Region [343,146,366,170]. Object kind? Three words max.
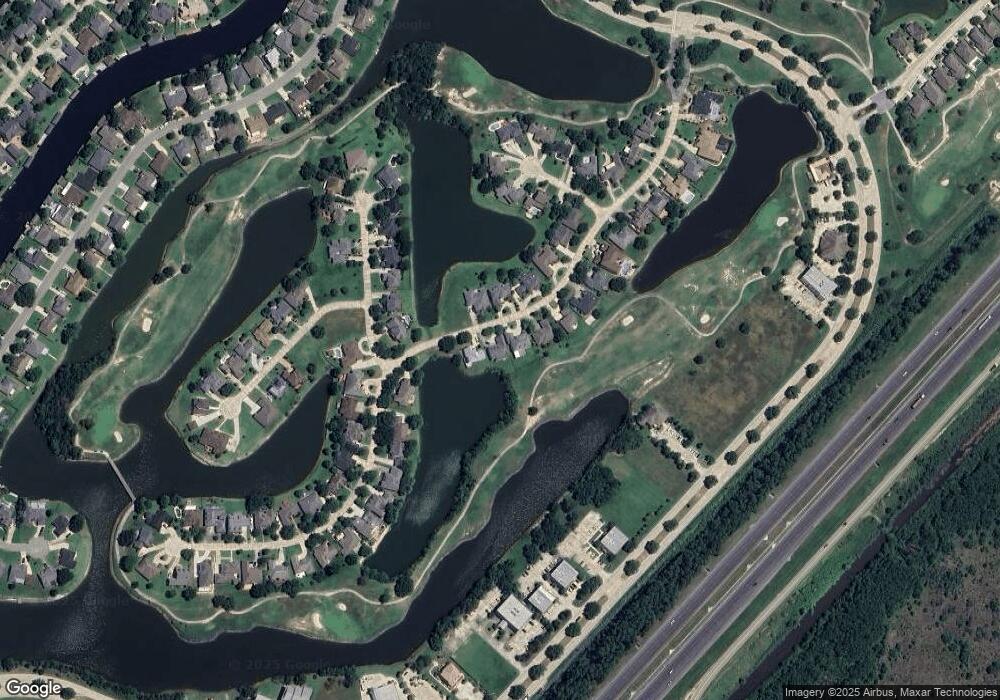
house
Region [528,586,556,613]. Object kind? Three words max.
building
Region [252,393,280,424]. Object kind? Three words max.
house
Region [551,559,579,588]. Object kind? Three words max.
building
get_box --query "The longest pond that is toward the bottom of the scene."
[368,356,505,575]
